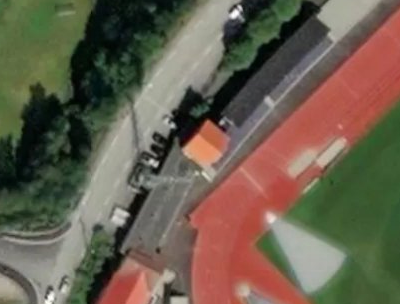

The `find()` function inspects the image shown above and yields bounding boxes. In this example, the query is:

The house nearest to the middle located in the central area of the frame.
[182,119,231,167]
